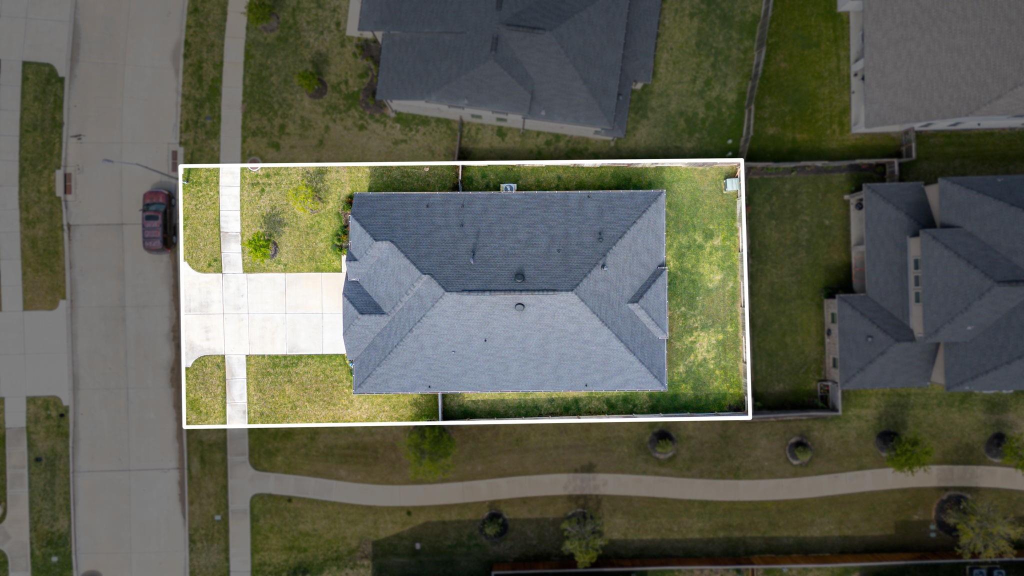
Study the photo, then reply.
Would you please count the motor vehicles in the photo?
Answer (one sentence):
My tally gives 1 motor vehicle in this photo.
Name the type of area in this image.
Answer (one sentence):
The area seen from above is a residential area.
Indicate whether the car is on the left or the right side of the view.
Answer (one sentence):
The car appears in the left half of the scene.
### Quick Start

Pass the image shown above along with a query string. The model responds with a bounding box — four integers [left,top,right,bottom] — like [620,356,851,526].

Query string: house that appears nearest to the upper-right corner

[834,0,1024,133]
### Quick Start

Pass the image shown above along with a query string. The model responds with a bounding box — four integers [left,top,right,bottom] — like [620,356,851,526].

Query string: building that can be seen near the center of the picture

[342,190,668,393]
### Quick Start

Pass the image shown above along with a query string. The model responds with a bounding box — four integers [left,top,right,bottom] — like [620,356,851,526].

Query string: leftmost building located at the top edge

[358,0,662,153]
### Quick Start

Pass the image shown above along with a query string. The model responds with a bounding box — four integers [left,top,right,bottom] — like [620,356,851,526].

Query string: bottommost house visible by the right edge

[823,176,1024,393]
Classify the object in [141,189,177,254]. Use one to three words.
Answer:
car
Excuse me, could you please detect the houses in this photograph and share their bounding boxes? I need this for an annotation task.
[358,0,662,153]
[834,0,1024,133]
[342,190,668,393]
[823,176,1024,393]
